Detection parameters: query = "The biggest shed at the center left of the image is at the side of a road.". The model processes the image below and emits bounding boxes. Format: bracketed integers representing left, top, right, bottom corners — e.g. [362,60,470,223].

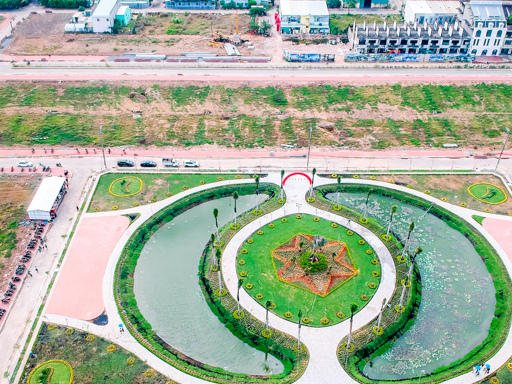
[23,168,73,221]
